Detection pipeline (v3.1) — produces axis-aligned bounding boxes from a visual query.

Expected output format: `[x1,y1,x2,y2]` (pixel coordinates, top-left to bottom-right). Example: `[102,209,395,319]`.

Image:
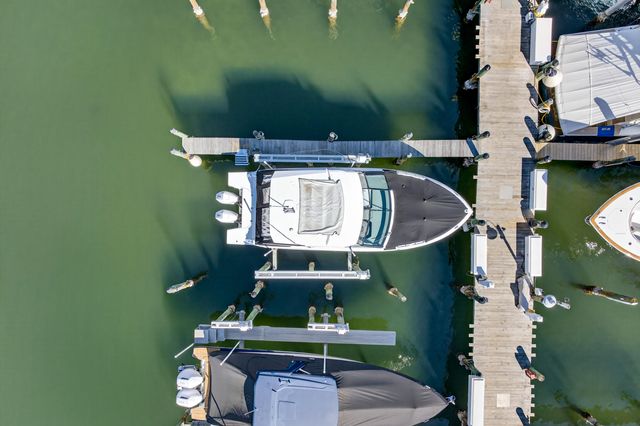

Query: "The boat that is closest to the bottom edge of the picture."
[176,342,453,426]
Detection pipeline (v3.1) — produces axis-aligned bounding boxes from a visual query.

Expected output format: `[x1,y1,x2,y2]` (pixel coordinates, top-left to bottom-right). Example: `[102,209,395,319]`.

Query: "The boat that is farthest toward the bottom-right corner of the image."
[584,181,640,264]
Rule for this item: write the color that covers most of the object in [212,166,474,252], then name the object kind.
white boat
